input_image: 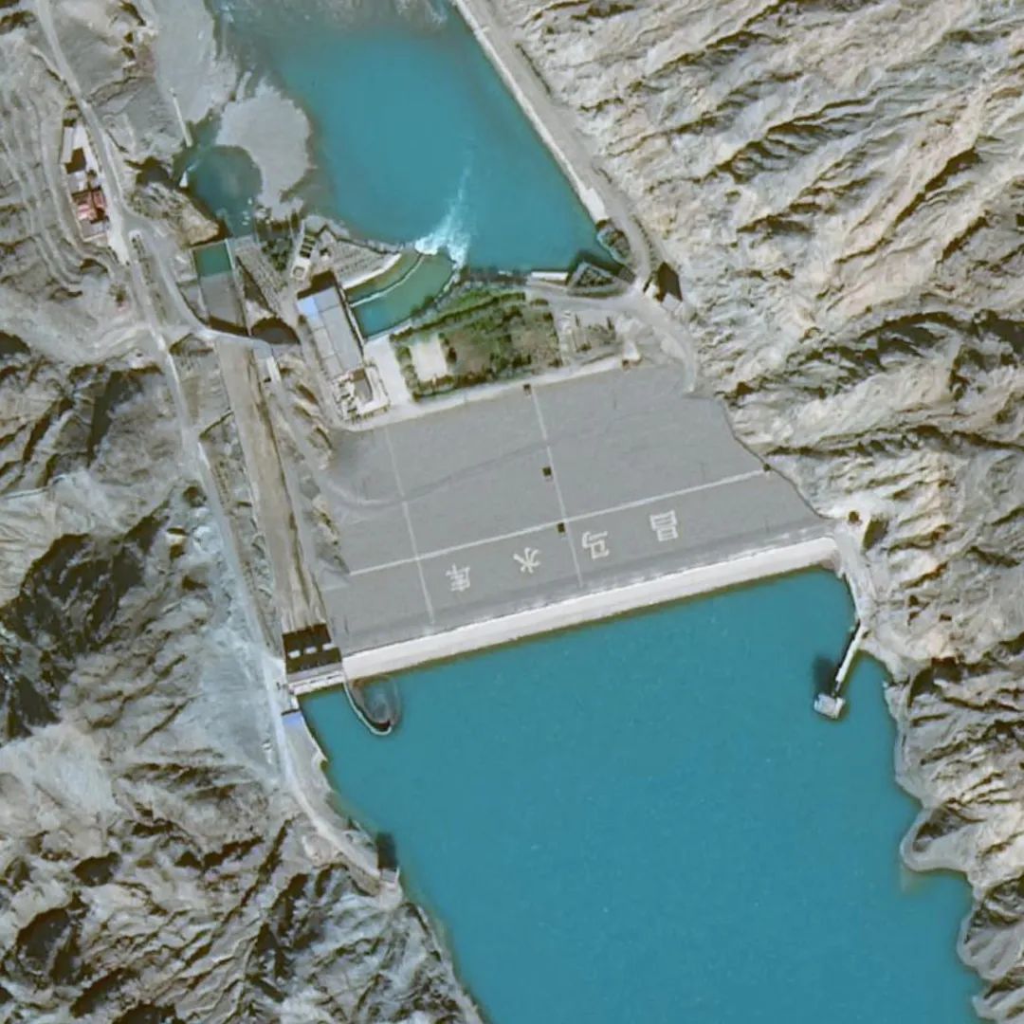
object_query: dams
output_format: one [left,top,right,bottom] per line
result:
[314,357,845,682]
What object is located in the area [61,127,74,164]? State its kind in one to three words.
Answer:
house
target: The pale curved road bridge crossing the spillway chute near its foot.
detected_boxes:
[187,320,274,358]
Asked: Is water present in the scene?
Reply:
Yes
